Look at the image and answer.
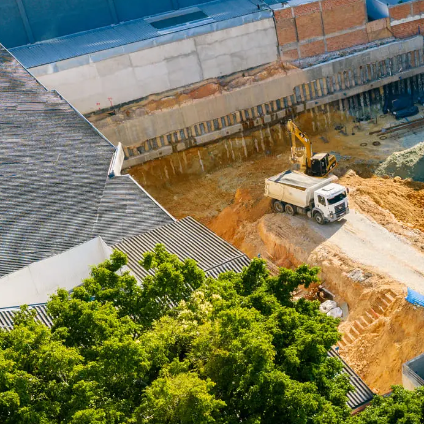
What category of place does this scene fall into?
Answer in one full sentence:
It's an industrial area.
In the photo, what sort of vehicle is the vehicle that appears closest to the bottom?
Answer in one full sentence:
I'd say the vehicle that appears closest to the bottom is a truck.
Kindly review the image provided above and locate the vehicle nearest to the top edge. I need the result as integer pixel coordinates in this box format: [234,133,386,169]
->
[283,120,347,176]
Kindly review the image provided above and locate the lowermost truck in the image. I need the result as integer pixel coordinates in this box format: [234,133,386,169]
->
[257,167,349,224]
